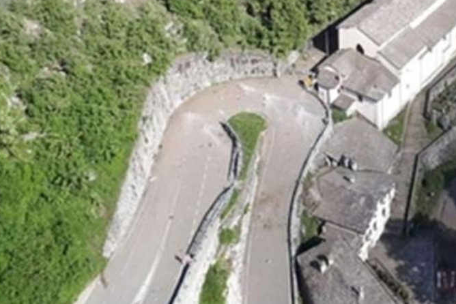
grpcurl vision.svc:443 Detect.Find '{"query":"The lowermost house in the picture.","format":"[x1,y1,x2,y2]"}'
[297,225,400,304]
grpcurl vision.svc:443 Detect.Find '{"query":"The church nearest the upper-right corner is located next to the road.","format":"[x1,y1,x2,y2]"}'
[319,0,456,131]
